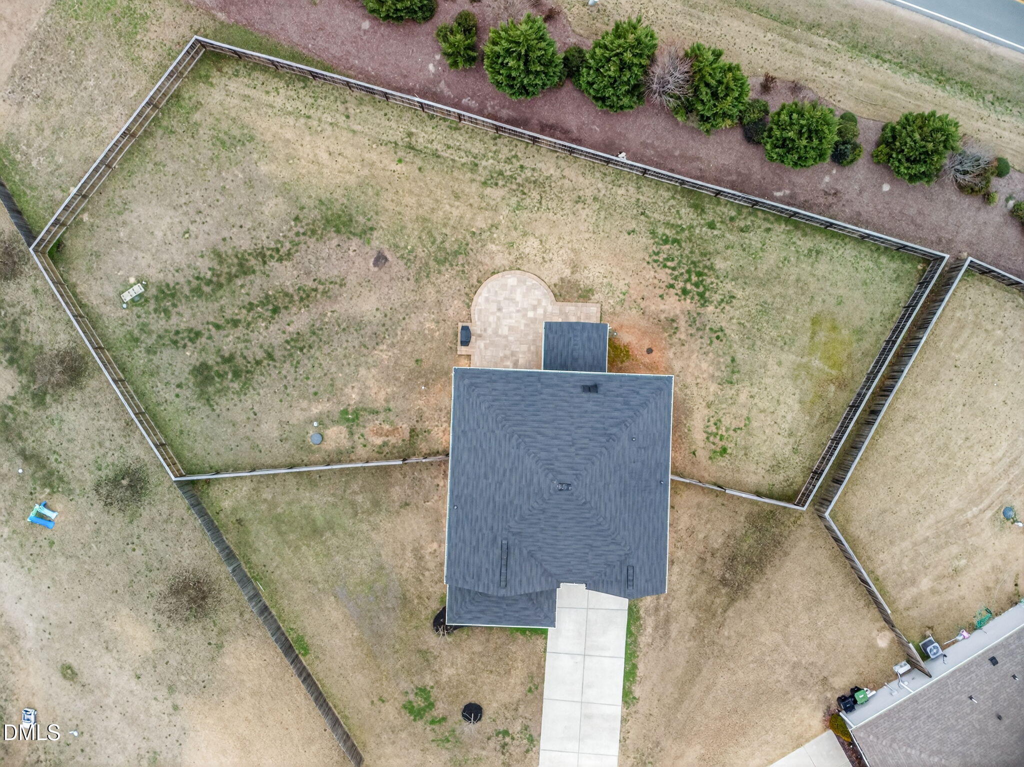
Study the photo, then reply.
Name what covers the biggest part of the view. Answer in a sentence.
The bulk of the photo consists of grass.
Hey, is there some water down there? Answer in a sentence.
No, the scene doesn't show any water.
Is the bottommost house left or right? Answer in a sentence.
The bottommost house appears in the right half of the scene.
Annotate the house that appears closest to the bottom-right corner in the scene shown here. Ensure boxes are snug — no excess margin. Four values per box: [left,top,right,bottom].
[834,602,1024,767]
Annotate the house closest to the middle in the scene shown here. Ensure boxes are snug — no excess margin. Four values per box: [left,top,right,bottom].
[444,322,677,630]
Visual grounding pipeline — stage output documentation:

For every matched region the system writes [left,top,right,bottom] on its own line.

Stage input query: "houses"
[834,602,1024,767]
[444,322,677,630]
